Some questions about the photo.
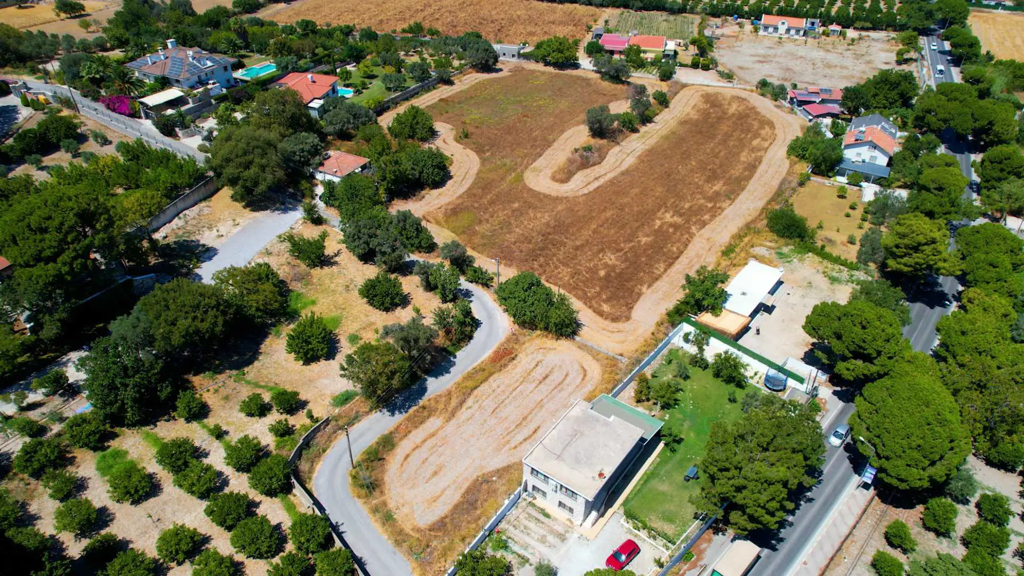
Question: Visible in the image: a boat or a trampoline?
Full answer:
Looking from above, you can make out a trampoline.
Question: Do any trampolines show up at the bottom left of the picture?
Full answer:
No, the scene shows no trampoline at the bottom left of the picture.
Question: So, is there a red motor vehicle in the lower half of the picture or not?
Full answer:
Yes, you'll find a red motor vehicle in the lower half of the picture.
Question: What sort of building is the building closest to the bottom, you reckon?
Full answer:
Specifically, the building closest to the bottom is a residential house.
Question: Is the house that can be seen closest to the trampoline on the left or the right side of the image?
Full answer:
It is on the right.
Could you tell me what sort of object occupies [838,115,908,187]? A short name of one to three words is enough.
house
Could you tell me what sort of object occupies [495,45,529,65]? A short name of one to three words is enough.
shed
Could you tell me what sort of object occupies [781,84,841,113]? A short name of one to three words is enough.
house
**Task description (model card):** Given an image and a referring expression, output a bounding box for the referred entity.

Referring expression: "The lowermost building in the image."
[518,393,665,546]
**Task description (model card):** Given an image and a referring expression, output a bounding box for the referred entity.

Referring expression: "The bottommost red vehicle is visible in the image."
[607,534,644,569]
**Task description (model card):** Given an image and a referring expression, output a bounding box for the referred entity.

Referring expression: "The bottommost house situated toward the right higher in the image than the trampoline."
[708,255,775,335]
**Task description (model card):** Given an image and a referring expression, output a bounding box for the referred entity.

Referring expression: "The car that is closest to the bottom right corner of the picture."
[828,420,854,447]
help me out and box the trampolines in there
[763,368,789,396]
